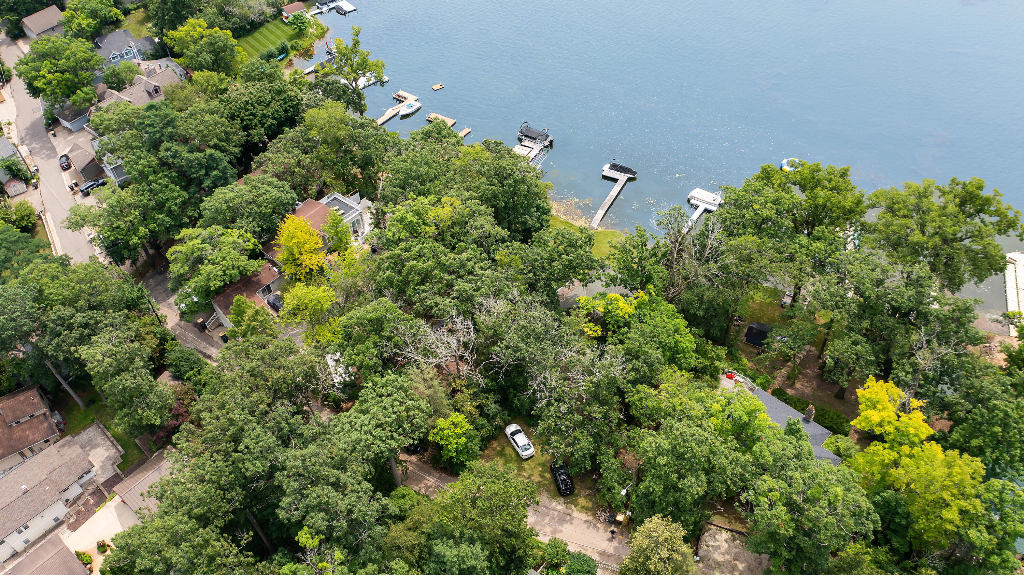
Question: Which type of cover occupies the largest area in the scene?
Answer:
trees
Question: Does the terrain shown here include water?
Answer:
Yes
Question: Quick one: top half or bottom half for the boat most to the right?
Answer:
top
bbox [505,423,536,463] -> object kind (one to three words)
car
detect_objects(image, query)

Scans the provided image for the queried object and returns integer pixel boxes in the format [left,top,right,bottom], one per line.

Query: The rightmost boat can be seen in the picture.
[688,186,723,206]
